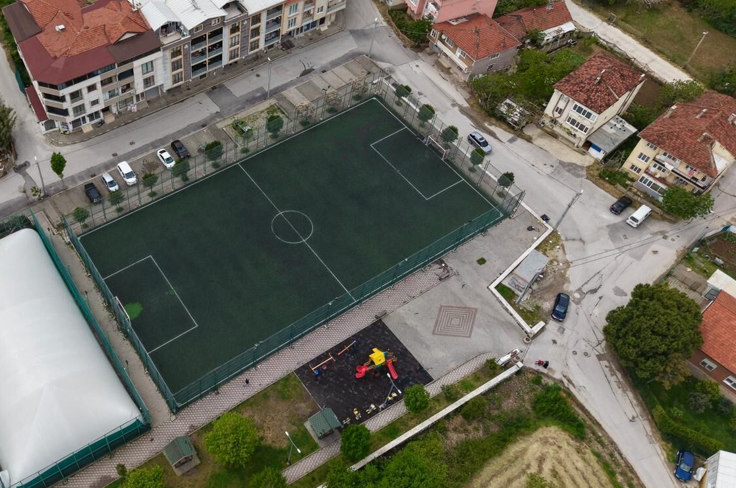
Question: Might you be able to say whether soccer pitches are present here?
Yes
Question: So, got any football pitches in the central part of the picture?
Yes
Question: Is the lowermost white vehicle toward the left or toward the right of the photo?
right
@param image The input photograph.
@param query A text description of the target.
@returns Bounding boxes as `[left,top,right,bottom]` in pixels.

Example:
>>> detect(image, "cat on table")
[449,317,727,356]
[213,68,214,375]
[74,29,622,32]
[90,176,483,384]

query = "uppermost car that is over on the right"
[465,130,492,152]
